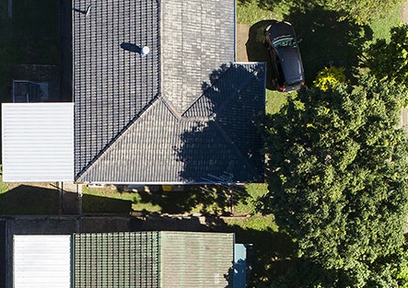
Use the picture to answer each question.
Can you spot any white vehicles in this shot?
No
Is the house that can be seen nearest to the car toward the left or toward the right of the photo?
left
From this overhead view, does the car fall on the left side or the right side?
right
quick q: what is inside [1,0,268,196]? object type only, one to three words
house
